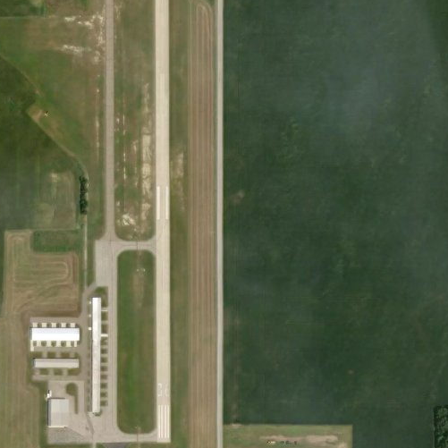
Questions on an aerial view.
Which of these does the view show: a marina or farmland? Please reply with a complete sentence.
This looks like farmland.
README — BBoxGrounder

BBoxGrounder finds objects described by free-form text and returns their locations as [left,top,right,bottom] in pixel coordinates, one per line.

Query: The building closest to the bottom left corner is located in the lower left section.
[49,399,69,426]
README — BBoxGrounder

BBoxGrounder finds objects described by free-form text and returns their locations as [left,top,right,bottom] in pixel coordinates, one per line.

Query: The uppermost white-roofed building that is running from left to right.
[31,327,80,342]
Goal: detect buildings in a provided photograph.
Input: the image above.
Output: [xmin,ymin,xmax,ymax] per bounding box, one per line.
[35,359,79,369]
[92,298,101,412]
[31,327,80,342]
[49,399,69,426]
